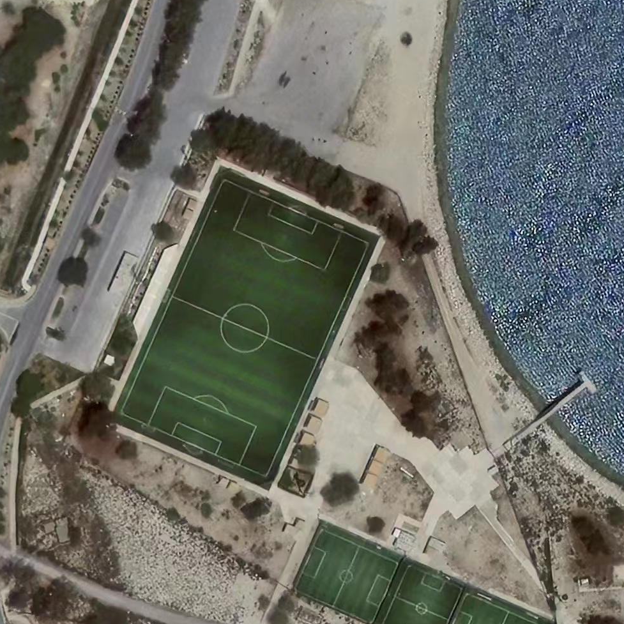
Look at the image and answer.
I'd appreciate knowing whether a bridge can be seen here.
No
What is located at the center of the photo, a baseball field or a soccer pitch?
soccer pitch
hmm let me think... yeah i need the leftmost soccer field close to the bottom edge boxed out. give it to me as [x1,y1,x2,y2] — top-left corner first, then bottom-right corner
[295,520,404,624]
